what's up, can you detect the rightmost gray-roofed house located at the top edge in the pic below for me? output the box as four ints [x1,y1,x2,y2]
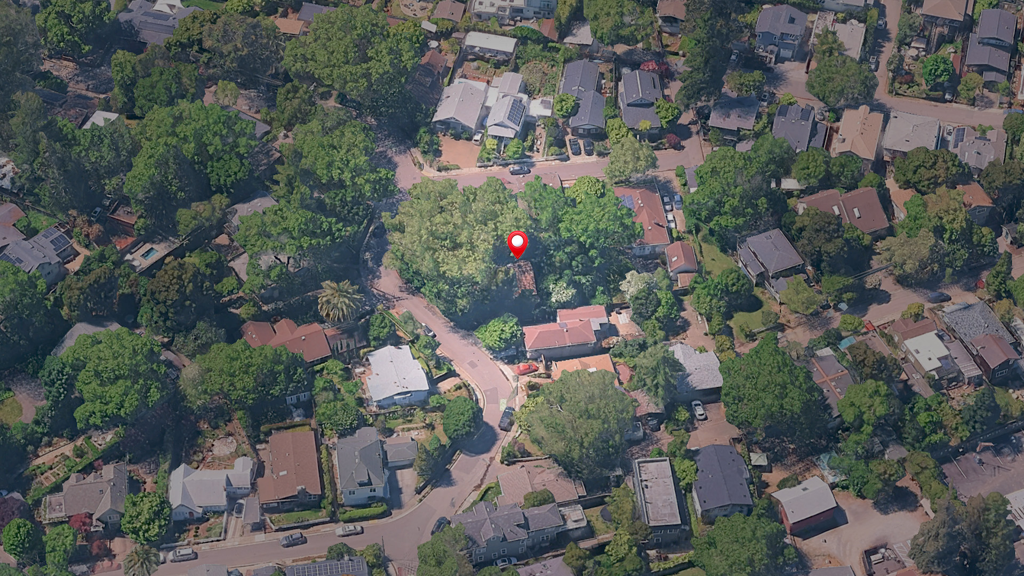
[961,8,1017,92]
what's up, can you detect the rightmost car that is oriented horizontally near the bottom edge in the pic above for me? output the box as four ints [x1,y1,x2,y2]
[491,554,520,568]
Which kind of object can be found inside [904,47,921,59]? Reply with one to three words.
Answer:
umbrella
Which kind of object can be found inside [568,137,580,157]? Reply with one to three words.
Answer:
vehicle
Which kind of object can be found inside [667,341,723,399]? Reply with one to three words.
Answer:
house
